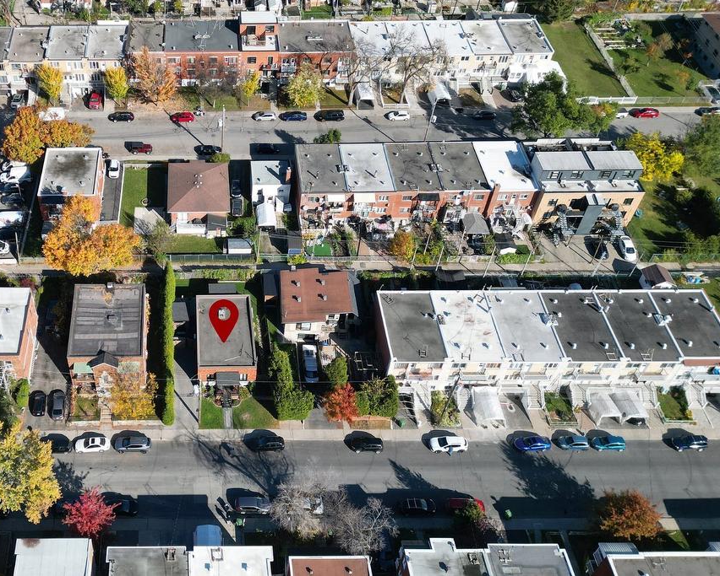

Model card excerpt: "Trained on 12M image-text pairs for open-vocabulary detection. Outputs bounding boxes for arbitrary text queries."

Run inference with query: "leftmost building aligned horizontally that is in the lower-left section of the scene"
[10,539,96,576]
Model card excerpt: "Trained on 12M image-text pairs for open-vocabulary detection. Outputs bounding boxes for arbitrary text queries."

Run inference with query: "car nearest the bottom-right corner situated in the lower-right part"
[666,433,712,453]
